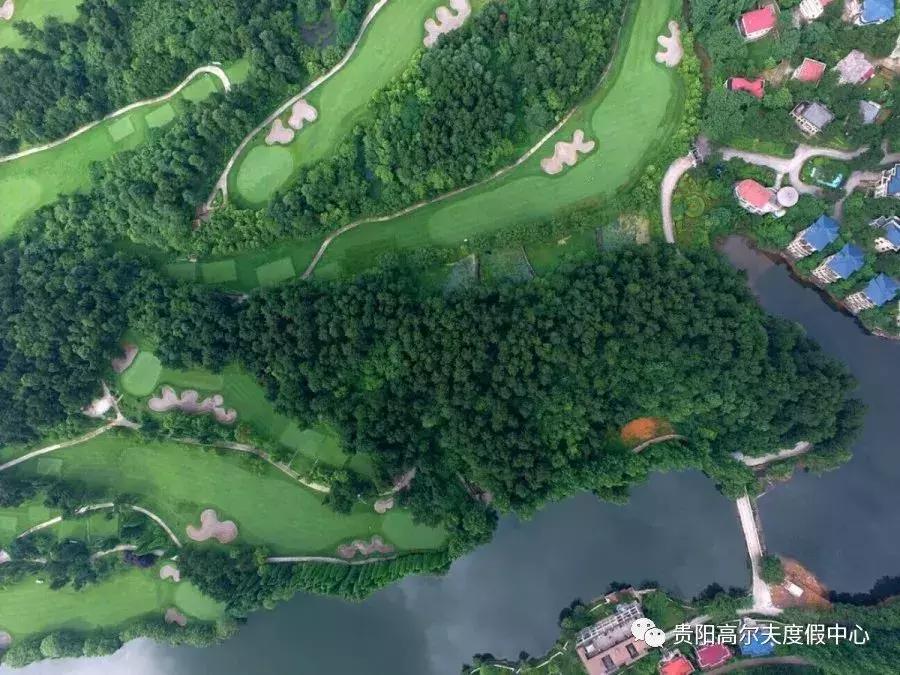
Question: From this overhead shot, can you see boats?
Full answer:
No, there's no boat here.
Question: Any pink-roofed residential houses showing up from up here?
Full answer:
Yes, there is a pink-roofed residential house in the image.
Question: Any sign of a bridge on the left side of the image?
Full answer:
No, the scene shows no bridge on the left side of the image.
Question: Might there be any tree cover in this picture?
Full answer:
Yes, there's tree cover in this view.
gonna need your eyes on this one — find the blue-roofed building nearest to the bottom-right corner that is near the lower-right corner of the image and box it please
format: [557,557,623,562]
[737,612,776,656]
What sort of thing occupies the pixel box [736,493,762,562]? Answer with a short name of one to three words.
bridge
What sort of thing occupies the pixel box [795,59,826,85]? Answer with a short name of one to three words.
house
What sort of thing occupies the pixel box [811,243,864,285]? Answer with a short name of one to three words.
house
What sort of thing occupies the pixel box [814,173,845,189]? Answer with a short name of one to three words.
swimming pool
